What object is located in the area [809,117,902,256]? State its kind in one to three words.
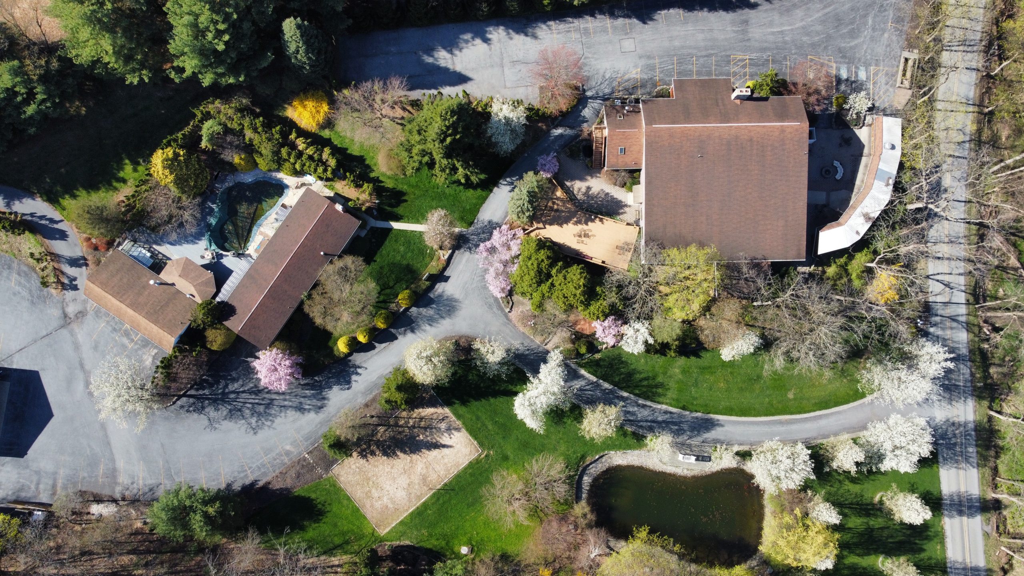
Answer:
building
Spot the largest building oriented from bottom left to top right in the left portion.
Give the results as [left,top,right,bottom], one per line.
[216,187,362,349]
